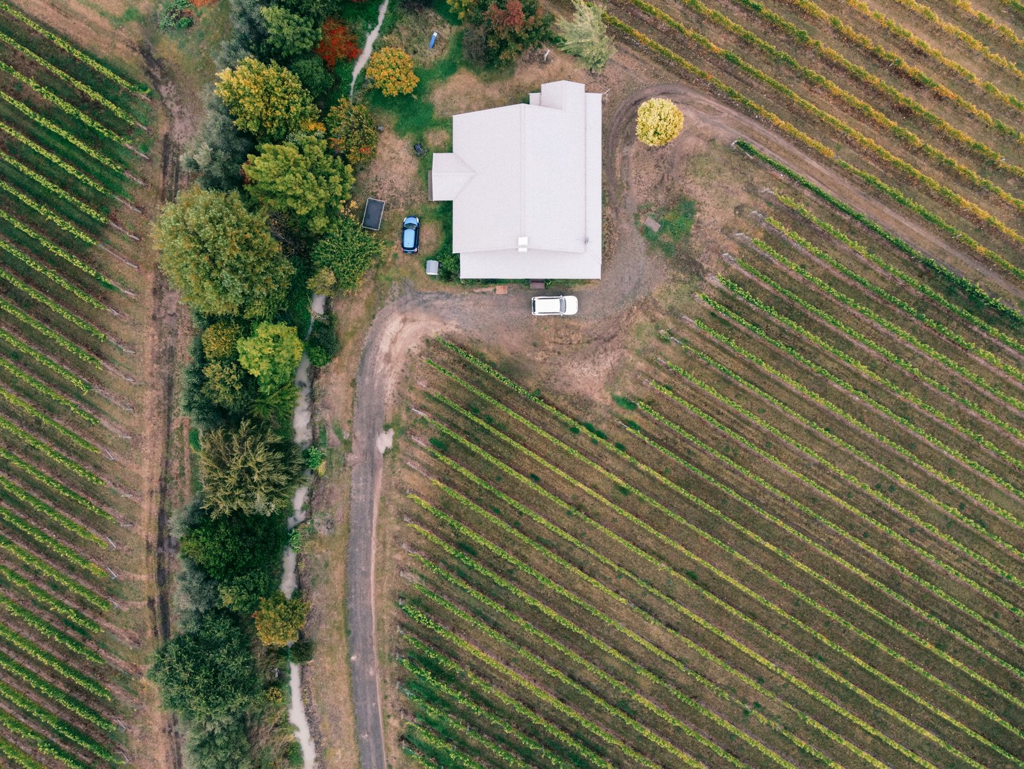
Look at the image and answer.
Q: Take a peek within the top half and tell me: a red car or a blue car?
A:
blue car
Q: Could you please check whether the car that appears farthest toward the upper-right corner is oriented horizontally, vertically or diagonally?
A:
horizontally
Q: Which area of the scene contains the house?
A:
top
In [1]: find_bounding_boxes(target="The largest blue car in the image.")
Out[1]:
[400,218,421,255]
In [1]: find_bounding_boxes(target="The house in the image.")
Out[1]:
[428,80,605,290]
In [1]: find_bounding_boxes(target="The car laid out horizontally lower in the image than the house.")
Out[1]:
[532,295,577,316]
